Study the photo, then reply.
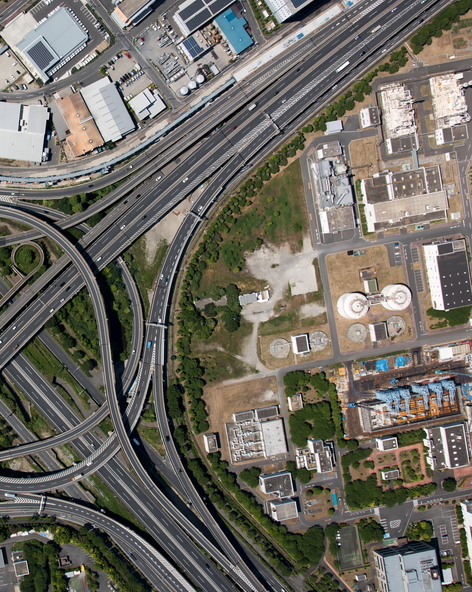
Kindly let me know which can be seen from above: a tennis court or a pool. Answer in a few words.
tennis court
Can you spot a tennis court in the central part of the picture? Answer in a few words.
No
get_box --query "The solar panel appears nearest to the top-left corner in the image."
[28,40,59,70]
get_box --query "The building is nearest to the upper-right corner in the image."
[426,74,470,129]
